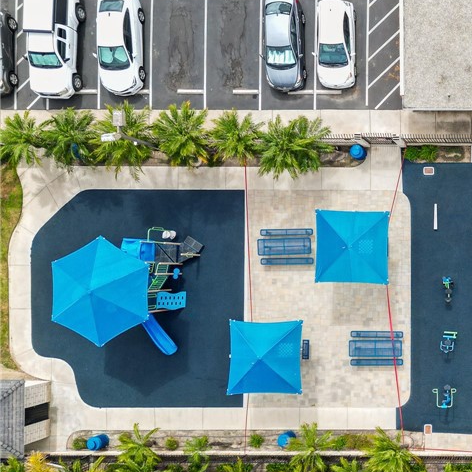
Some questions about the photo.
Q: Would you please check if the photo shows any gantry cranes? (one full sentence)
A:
No, I can see no gantry crane in this picture.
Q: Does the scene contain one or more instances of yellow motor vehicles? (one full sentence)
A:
No, there isn't any yellow motor vehicle down there.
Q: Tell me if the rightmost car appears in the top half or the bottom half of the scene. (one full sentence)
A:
It is in the top half that the rightmost car appears.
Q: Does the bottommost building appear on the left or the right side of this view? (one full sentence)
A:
The bottommost building is on the left side of the image.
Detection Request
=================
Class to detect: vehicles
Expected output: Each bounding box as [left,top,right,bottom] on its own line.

[91,0,148,97]
[259,0,309,96]
[311,0,359,89]
[22,0,87,98]
[0,4,19,98]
